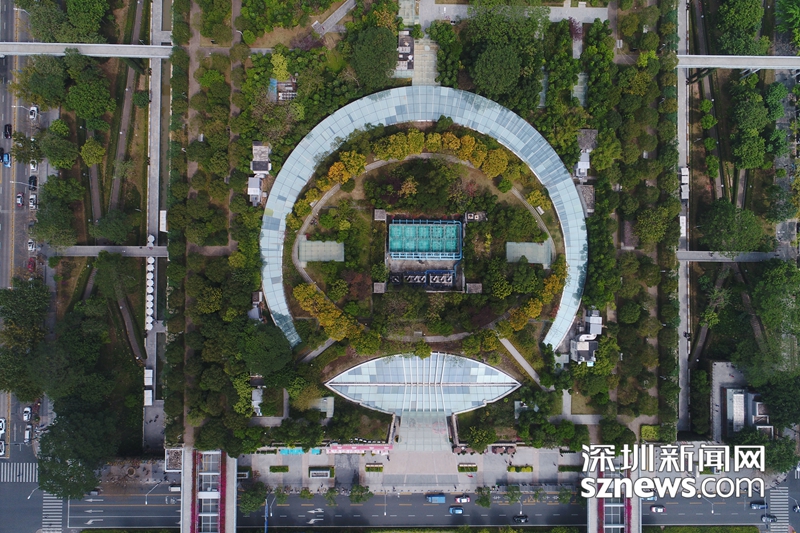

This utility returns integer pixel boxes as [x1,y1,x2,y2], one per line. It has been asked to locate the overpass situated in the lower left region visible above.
[177,447,238,533]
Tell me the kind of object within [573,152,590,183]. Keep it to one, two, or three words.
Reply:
building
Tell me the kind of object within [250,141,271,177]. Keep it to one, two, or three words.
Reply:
building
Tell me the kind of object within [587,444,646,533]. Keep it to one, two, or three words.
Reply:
overpass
